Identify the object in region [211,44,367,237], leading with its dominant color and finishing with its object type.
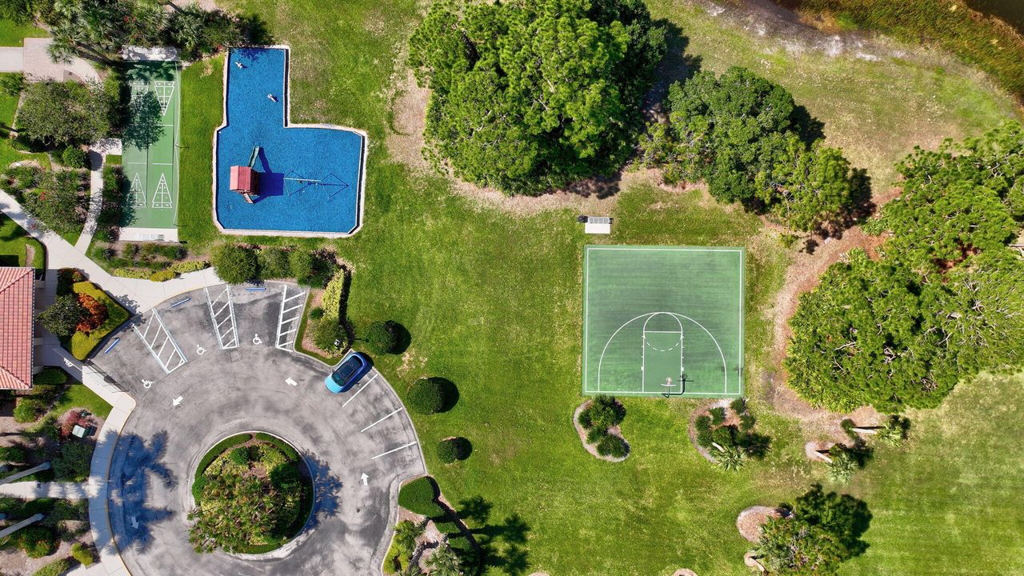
blue playground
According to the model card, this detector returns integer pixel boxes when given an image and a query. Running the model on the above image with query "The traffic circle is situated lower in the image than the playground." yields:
[123,363,383,576]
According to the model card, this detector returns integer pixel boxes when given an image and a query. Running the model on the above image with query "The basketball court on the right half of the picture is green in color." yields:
[582,244,746,398]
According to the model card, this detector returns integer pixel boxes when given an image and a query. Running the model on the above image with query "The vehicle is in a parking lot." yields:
[328,351,372,393]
